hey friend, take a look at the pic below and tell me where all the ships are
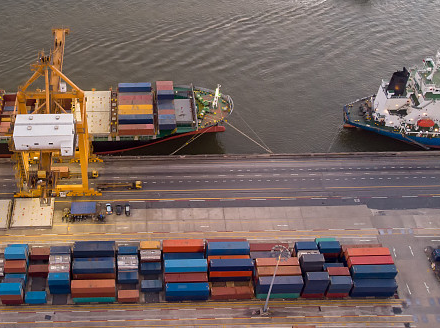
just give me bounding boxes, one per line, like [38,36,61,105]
[0,82,234,157]
[335,44,440,149]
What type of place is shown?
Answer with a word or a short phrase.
port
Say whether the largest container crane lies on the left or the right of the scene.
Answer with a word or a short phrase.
left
